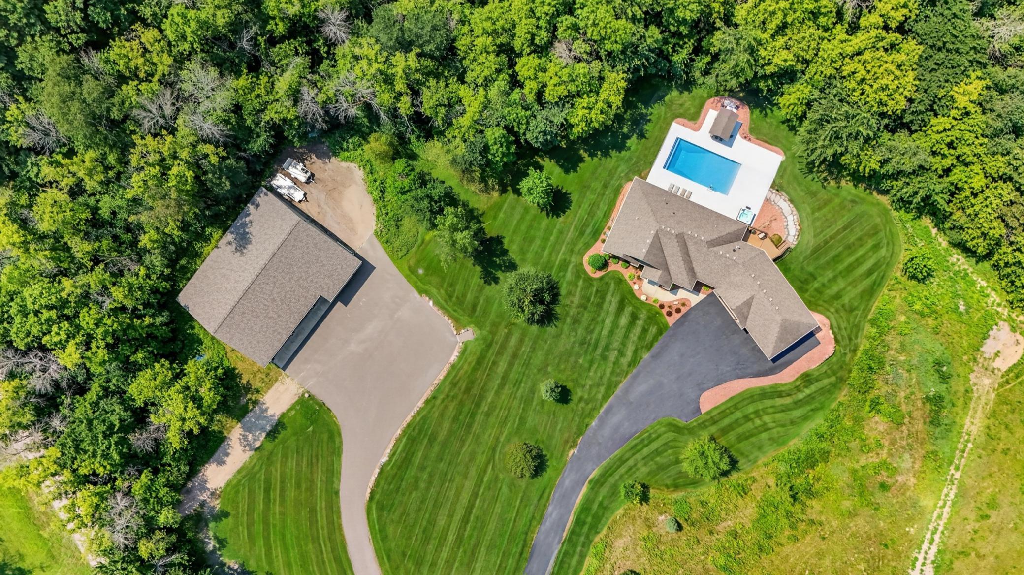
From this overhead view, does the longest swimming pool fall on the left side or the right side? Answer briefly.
right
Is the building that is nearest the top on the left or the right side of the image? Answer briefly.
right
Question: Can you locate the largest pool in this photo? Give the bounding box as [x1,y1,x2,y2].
[663,137,741,194]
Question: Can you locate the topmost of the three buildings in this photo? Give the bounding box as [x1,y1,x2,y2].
[707,107,739,142]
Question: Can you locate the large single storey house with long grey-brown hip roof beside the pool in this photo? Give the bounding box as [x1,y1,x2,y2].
[602,176,819,360]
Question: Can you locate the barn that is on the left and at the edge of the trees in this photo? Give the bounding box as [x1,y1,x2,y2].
[178,188,362,367]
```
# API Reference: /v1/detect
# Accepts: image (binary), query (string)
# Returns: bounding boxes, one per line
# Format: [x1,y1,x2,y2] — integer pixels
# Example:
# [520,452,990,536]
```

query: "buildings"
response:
[178,188,362,367]
[707,107,739,142]
[602,176,819,360]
